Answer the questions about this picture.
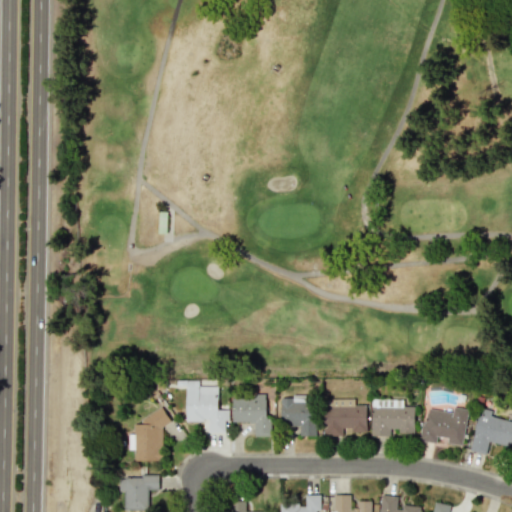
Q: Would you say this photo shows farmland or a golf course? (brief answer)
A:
golf course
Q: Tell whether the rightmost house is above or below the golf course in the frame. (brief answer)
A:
below it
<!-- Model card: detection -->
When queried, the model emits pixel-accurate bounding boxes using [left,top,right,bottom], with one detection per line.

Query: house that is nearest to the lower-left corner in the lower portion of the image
[120,476,160,512]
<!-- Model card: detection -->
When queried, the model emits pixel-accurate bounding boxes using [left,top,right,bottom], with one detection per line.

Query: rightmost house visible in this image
[473,414,512,454]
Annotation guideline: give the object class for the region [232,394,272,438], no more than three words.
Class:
house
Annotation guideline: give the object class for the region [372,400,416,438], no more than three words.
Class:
house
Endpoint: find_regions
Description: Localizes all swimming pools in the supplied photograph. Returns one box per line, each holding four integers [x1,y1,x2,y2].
[429,390,468,406]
